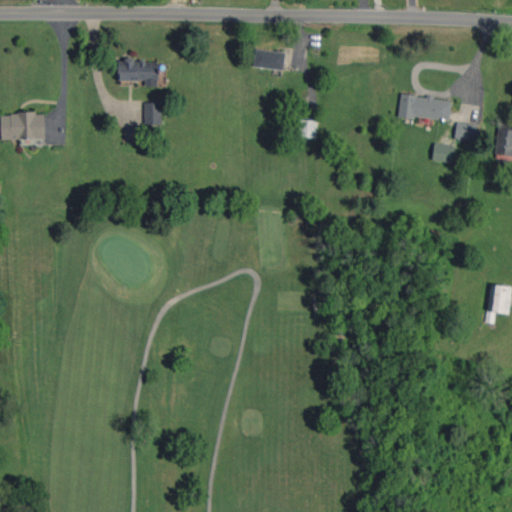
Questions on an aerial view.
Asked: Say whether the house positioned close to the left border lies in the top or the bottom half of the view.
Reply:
top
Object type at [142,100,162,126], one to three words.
building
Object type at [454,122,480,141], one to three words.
building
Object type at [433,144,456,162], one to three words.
shed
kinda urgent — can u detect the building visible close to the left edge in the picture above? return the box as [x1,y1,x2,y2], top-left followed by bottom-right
[1,113,45,140]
